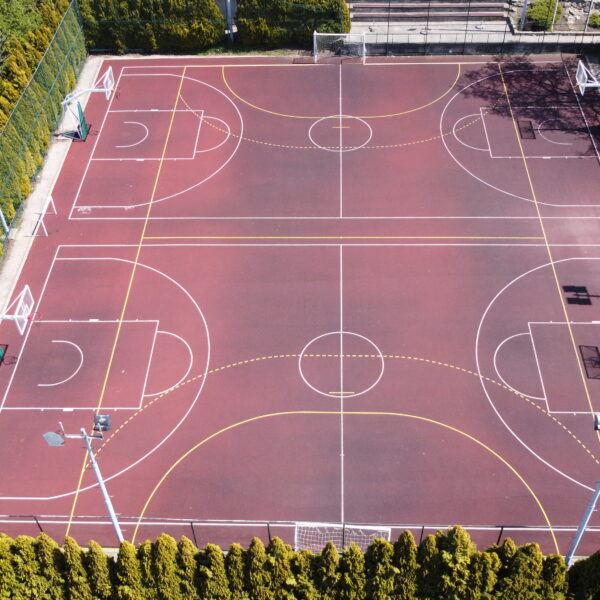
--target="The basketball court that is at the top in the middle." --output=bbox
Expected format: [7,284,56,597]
[38,53,600,231]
